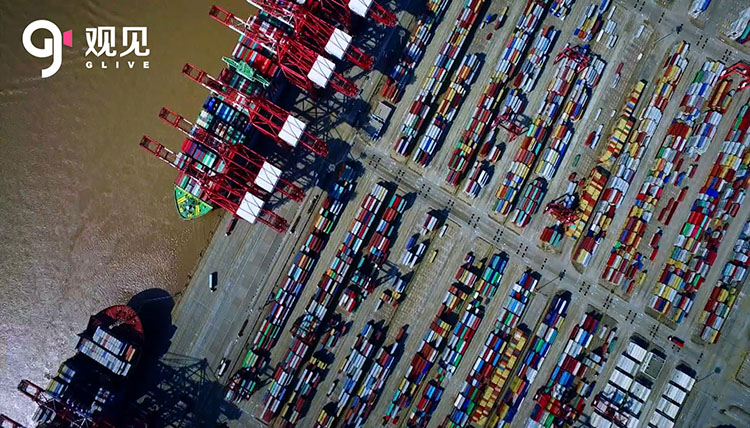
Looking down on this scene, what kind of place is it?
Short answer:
port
